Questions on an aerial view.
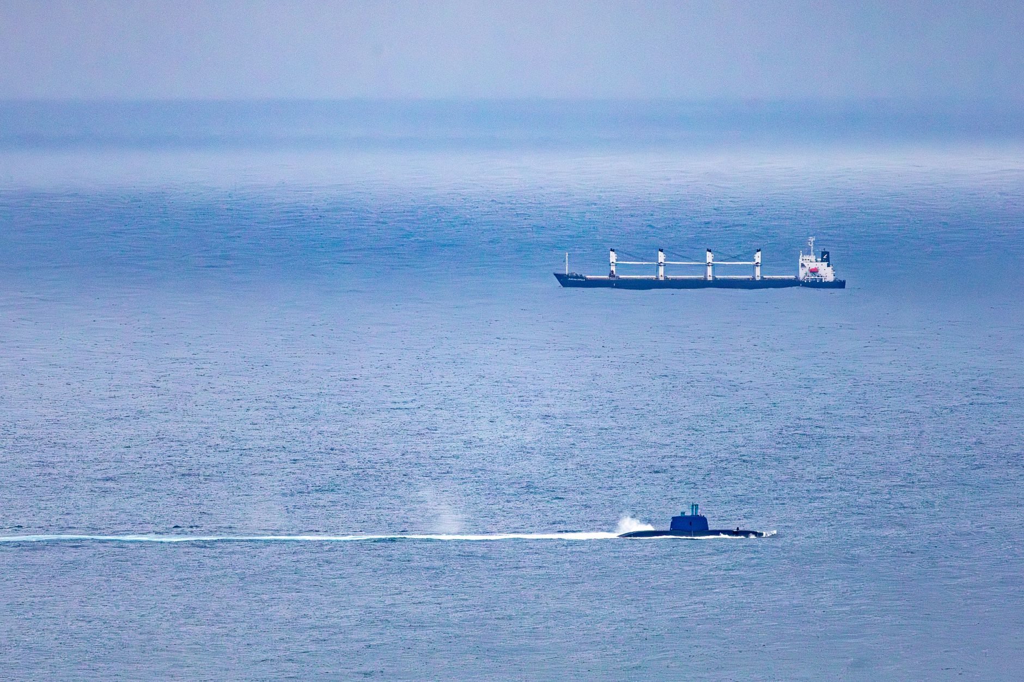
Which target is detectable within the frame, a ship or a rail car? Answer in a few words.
ship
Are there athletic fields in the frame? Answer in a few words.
No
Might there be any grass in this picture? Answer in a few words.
No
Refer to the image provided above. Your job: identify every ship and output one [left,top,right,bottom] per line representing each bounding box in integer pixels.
[620,502,765,537]
[554,237,846,289]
